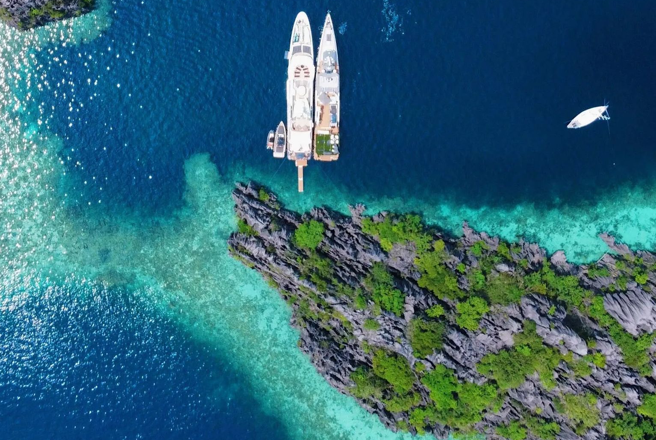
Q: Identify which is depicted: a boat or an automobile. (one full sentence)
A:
The image shows a boat.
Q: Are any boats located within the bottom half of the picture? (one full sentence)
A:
No, I see no boat within the bottom half of the picture.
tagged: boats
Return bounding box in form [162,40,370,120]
[570,102,611,129]
[266,130,274,149]
[284,10,315,161]
[273,122,285,158]
[314,10,340,161]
